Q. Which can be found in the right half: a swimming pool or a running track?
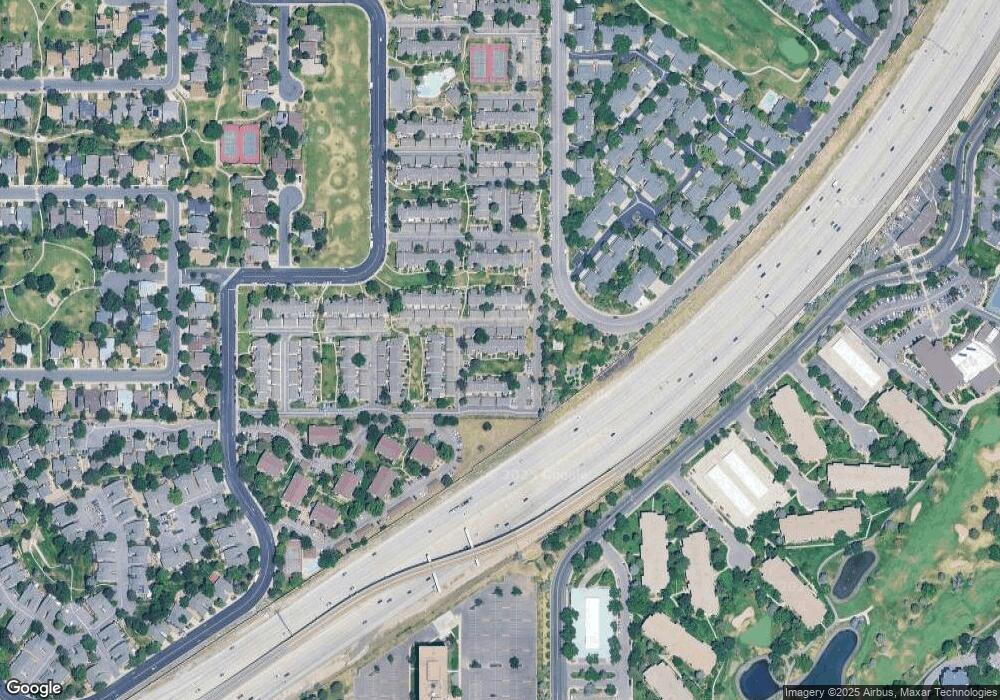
swimming pool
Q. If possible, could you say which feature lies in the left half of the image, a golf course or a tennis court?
tennis court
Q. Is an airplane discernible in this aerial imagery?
No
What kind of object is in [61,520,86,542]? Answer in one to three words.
house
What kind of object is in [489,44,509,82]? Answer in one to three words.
tennis court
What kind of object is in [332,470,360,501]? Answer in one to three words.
building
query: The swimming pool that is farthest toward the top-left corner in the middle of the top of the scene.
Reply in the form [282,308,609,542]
[415,67,456,100]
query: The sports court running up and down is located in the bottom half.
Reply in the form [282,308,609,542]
[285,541,302,578]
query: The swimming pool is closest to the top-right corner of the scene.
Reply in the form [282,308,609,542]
[758,90,779,111]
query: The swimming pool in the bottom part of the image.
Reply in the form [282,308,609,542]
[303,558,320,577]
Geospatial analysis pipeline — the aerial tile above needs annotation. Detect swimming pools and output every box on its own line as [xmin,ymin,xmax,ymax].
[303,558,320,577]
[758,90,779,111]
[415,67,456,100]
